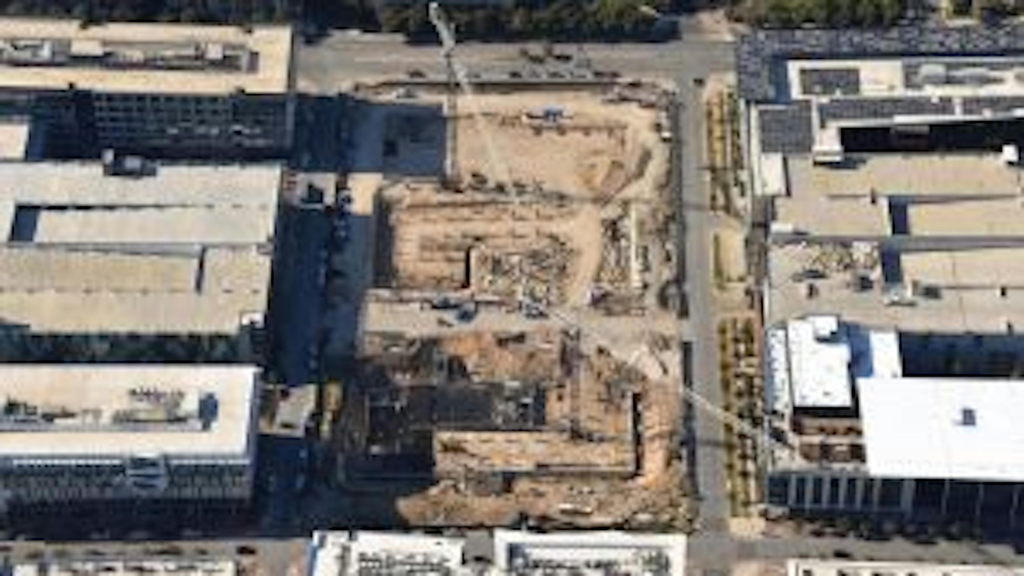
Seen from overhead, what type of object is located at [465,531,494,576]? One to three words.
building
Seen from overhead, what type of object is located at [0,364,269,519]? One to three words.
building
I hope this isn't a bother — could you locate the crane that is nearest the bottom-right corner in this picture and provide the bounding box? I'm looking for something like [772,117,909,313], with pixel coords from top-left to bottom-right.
[524,299,754,442]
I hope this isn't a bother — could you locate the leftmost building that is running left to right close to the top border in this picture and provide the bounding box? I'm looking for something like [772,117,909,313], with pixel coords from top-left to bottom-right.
[0,16,297,165]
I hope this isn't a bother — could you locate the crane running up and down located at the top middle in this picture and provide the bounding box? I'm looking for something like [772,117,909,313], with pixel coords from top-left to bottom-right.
[430,2,518,197]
